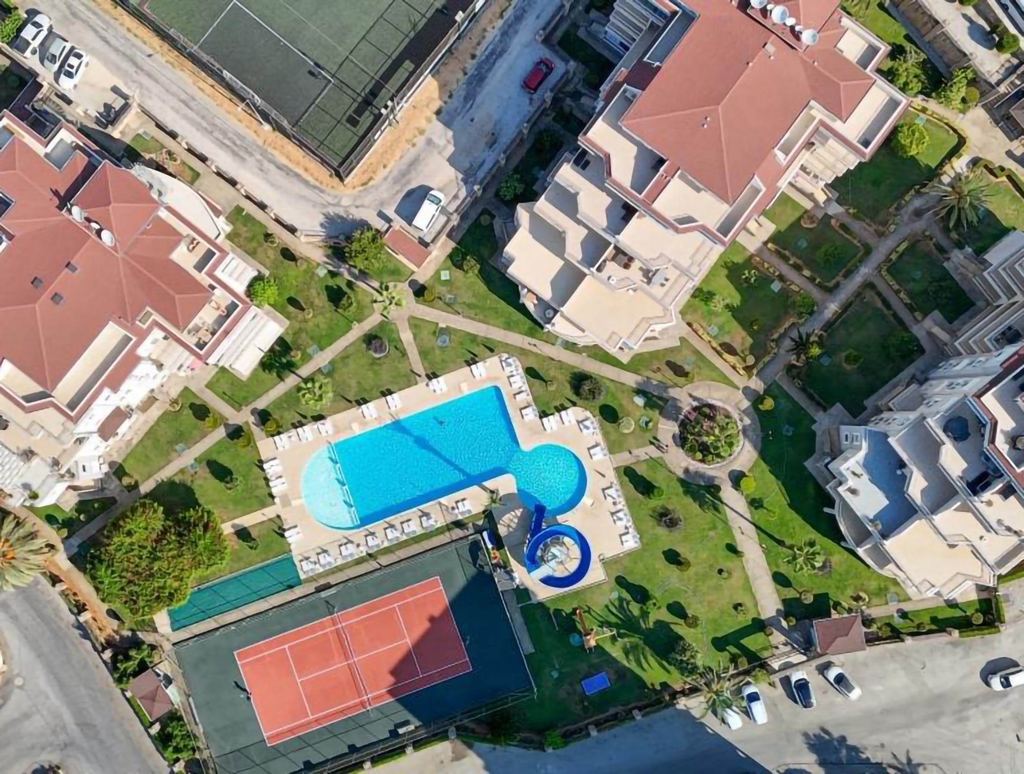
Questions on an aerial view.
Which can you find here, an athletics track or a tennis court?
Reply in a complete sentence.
It is a tennis court that can be seen here.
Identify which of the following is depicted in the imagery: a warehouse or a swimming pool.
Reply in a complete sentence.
There is a swimming pool in the scene.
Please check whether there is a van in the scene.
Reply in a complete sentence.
Yes, you can see a van in this photo.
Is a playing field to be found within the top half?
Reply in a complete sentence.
Yes, looking within the top half, one can make out a playing field.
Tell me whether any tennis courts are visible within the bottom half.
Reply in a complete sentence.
Yes, a tennis court is visible within the bottom half.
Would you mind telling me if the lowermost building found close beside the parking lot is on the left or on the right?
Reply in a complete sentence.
The lowermost building found close beside the parking lot is on the left side of the image.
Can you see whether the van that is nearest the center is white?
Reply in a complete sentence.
Yes, the van that is nearest the center is white.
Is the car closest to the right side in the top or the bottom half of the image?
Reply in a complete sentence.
Seen from above, the car closest to the right side lies in the bottom half of the view.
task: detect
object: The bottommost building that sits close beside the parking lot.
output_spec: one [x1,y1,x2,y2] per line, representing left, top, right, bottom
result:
[0,108,287,507]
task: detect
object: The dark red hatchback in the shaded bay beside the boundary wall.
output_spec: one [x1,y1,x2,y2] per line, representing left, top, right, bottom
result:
[522,58,554,95]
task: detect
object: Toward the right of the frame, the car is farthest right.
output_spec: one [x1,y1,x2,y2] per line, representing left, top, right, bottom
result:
[985,665,1024,691]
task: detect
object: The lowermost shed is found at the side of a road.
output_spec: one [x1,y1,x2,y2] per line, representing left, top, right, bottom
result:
[127,665,181,722]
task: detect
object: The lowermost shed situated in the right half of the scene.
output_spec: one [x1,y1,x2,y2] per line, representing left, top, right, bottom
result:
[807,611,867,655]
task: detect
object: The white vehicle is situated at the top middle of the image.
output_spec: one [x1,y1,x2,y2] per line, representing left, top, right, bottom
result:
[410,188,444,232]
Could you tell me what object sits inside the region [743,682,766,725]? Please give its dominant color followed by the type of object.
white car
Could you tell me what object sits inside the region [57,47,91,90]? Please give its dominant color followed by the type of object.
white car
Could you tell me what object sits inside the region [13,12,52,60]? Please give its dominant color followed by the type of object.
white truck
